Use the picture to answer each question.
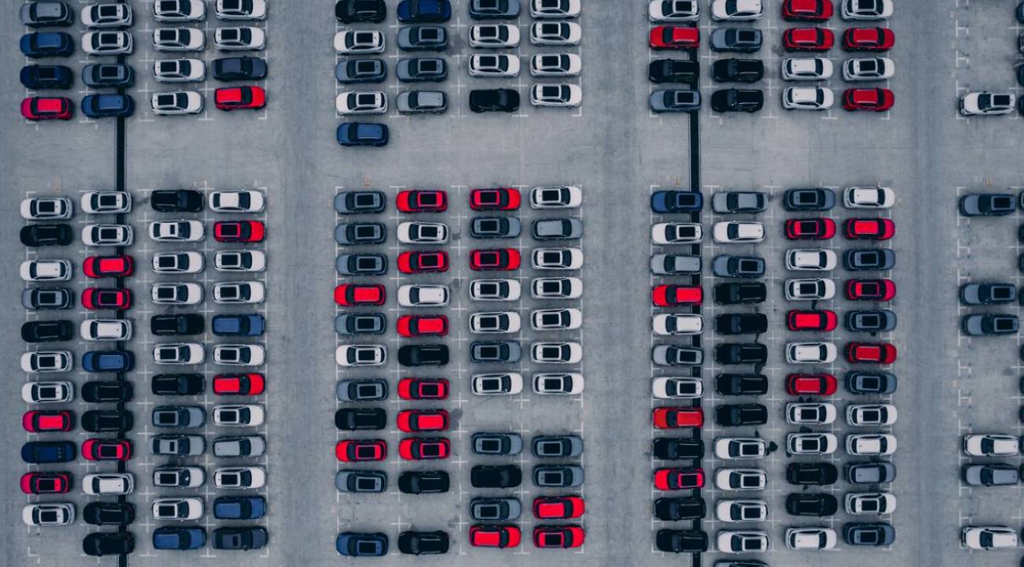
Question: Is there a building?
No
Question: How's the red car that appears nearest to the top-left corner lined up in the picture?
horizontally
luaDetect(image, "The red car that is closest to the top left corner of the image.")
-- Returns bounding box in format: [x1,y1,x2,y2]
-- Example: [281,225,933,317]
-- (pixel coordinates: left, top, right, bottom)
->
[22,94,75,121]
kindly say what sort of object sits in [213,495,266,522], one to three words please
car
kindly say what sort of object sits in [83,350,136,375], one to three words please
car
